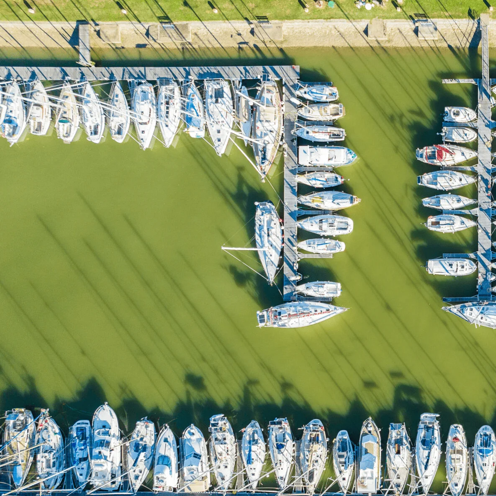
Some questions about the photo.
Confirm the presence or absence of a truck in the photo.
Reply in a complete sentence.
No, no truck is visible in the view.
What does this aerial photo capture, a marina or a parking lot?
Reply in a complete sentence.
This looks like a marina.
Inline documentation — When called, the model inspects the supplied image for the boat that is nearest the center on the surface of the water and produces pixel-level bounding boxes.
[222,199,288,287]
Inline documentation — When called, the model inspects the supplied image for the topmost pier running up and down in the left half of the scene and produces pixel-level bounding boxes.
[78,25,98,66]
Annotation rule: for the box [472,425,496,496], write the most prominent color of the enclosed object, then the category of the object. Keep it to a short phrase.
white boat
